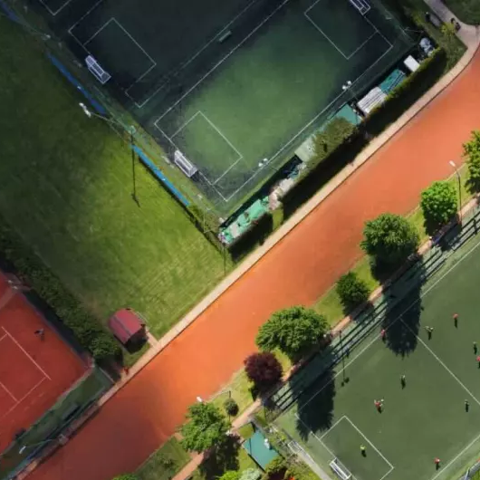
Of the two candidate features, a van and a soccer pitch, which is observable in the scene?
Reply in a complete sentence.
Of the two, only a soccer pitch appears.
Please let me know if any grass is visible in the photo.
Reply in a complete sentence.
Yes, grass can be seen from above here.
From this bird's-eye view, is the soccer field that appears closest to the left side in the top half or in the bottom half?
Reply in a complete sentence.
It is in the top half that the soccer field that appears closest to the left side appears.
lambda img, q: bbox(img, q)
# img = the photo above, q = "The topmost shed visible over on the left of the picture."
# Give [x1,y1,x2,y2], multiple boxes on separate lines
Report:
[109,308,154,345]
